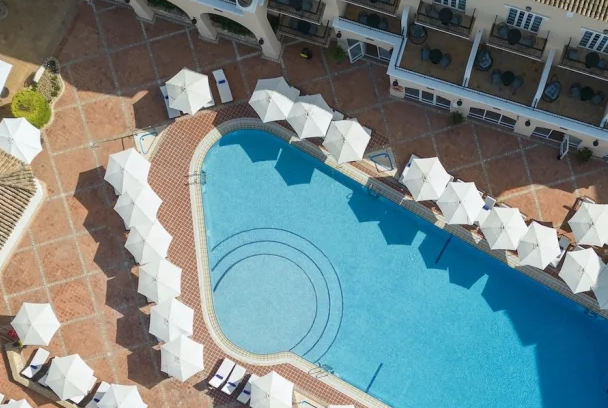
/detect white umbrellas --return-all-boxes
[324,119,371,163]
[151,295,195,342]
[250,75,297,119]
[167,68,212,115]
[0,114,42,161]
[518,222,562,269]
[160,335,203,382]
[115,184,162,229]
[286,94,333,138]
[138,258,182,303]
[99,384,147,408]
[104,148,150,194]
[12,303,60,345]
[251,371,294,408]
[437,183,485,225]
[403,157,451,200]
[125,220,172,266]
[559,249,607,293]
[569,203,608,247]
[480,207,527,250]
[47,355,94,400]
